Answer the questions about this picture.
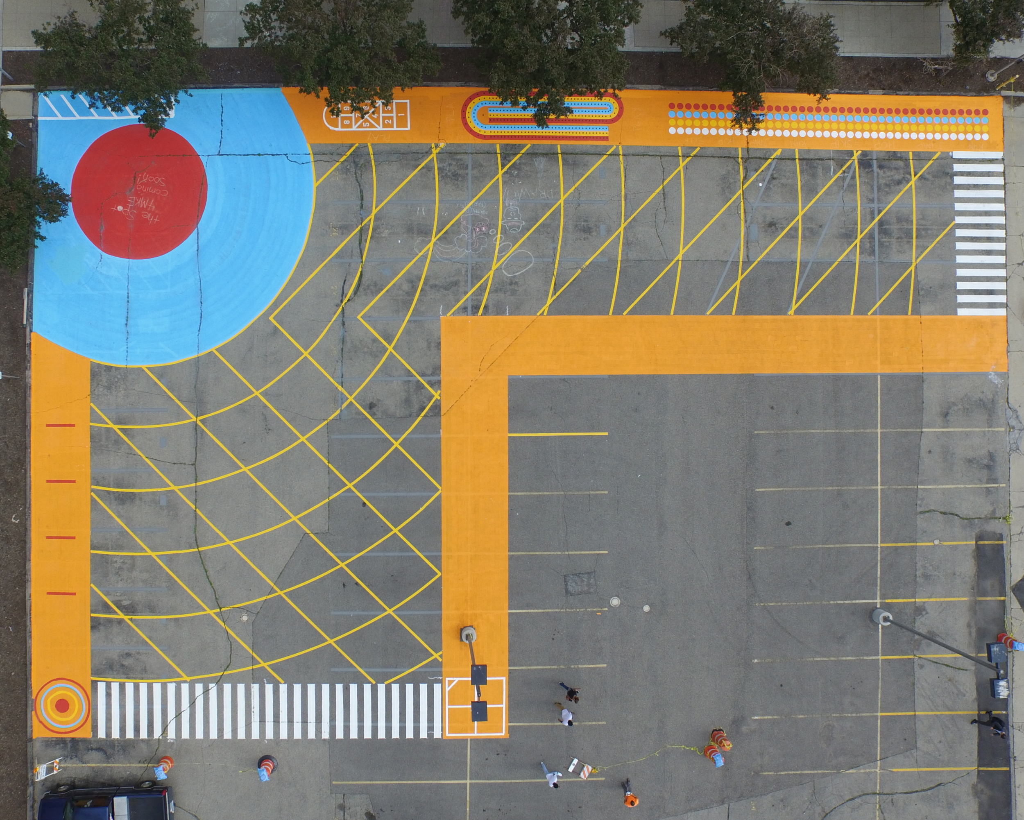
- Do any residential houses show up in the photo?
No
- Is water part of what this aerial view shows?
No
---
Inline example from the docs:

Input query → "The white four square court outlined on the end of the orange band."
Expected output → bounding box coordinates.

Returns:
[446,677,506,736]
